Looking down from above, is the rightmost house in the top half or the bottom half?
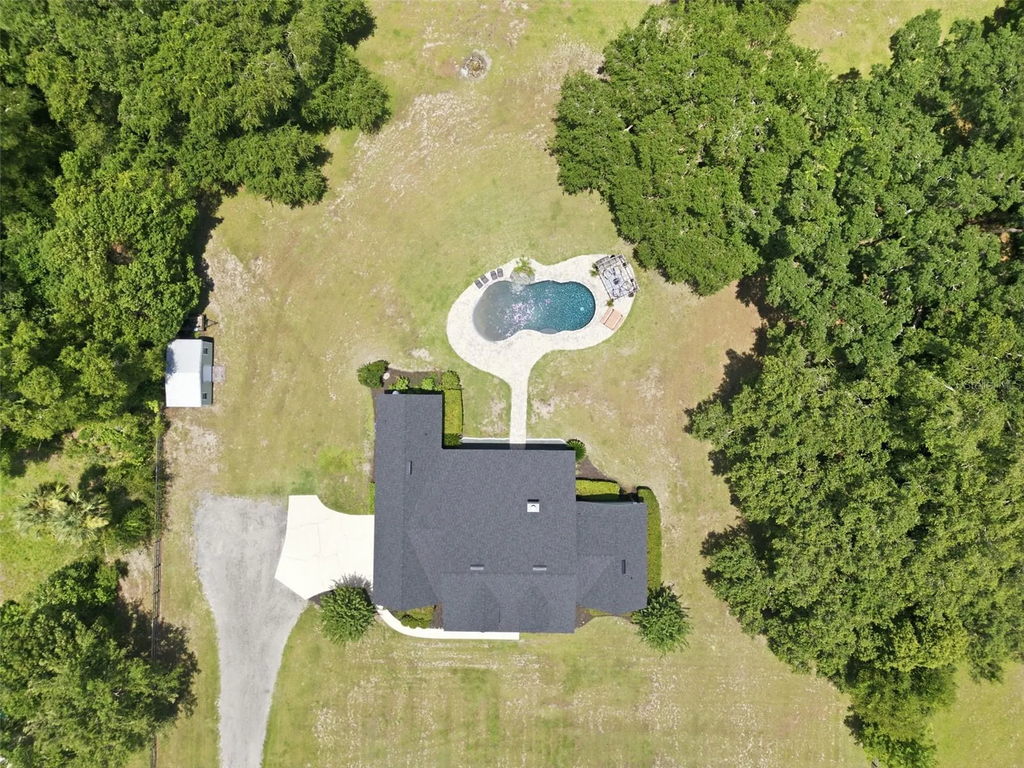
bottom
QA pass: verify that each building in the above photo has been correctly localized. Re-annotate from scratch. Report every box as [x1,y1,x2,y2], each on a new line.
[163,339,212,407]
[373,391,648,634]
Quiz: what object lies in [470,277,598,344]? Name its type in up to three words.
swimming pool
